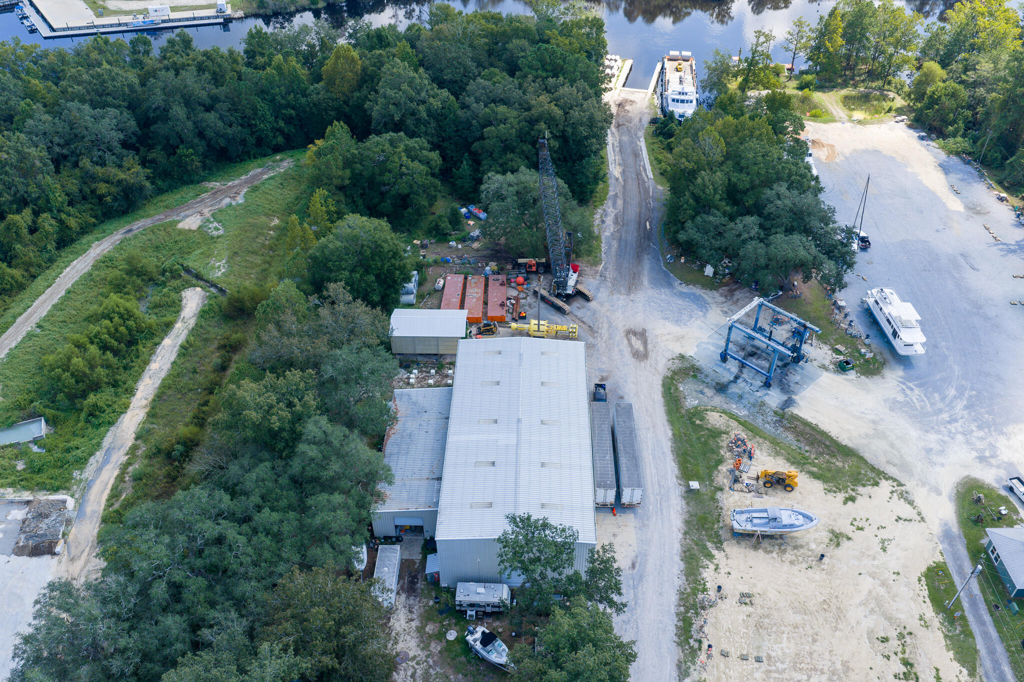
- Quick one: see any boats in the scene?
Yes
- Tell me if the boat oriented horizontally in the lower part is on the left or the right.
right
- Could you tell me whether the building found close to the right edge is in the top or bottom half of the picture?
bottom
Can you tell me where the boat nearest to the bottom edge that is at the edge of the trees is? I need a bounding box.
[464,622,511,667]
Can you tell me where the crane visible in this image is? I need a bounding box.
[535,131,593,314]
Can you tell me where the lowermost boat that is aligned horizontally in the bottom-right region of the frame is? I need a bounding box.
[727,509,820,542]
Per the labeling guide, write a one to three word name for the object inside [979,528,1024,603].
building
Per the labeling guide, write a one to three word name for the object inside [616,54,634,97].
pier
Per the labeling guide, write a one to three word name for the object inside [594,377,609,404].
vehicle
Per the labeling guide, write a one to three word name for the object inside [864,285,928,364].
boat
